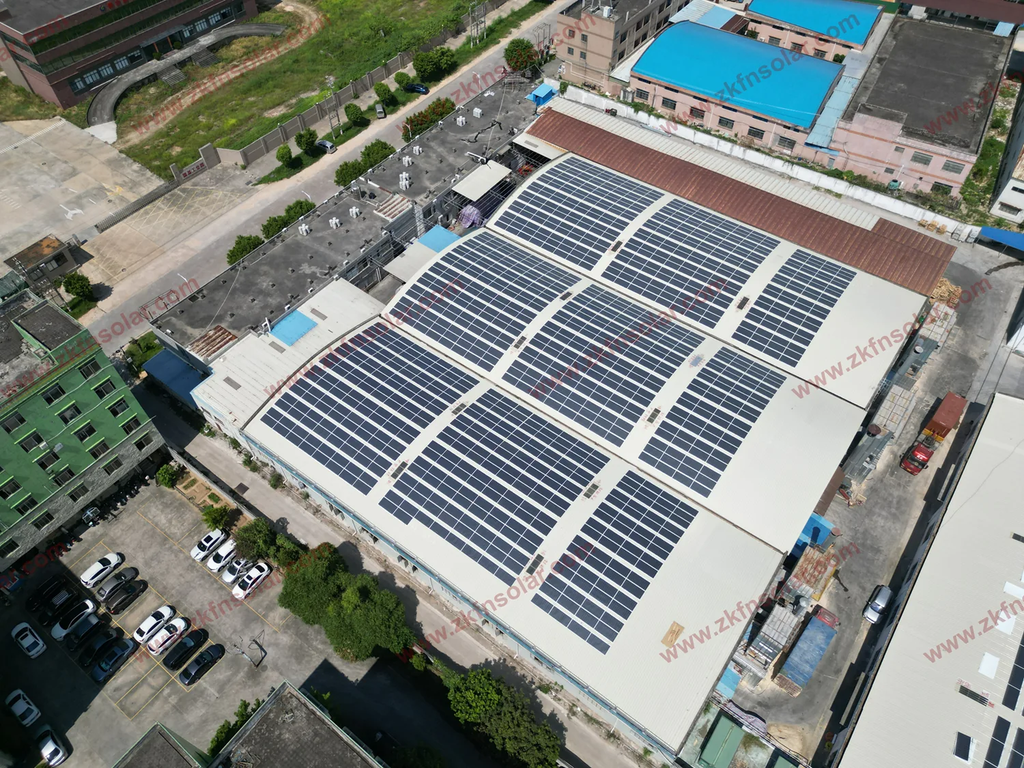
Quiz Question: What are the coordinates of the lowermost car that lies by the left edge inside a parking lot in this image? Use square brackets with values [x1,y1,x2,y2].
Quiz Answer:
[29,727,77,768]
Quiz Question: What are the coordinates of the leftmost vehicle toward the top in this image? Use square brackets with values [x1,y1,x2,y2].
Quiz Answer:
[313,141,339,153]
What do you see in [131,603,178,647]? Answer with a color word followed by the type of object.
white car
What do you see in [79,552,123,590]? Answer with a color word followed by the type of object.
white car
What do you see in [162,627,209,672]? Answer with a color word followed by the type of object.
black car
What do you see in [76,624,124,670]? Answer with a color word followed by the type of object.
black car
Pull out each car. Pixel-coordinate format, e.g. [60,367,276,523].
[37,583,84,625]
[103,577,149,619]
[231,561,273,602]
[367,719,407,767]
[215,554,256,589]
[4,686,45,730]
[375,99,387,119]
[203,536,241,575]
[76,624,124,670]
[162,627,209,672]
[178,643,226,689]
[79,552,123,590]
[131,603,178,647]
[11,622,49,661]
[29,727,77,768]
[22,572,70,614]
[94,565,141,605]
[63,609,111,653]
[90,638,139,685]
[50,598,98,641]
[313,141,339,153]
[862,583,891,627]
[146,616,191,659]
[404,84,429,95]
[188,526,230,563]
